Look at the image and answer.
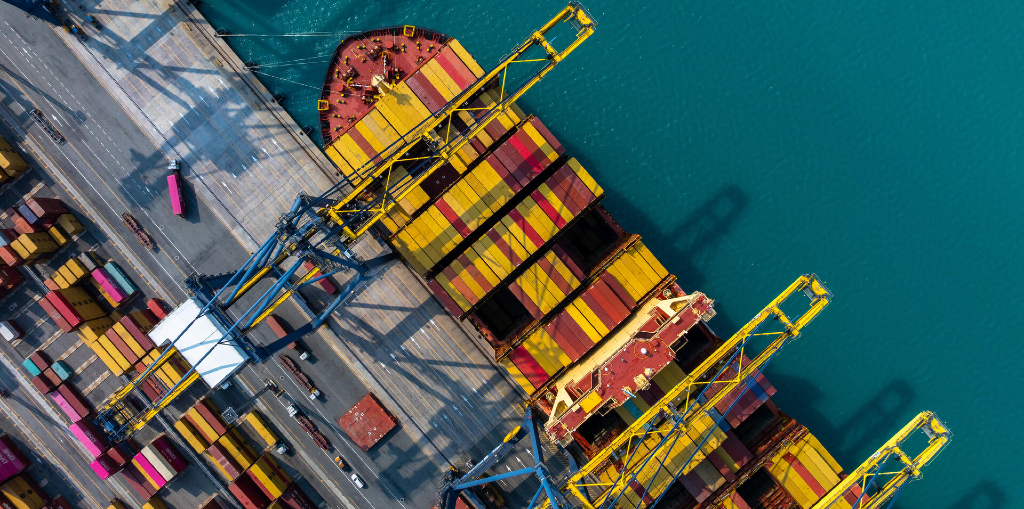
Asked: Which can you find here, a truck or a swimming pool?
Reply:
truck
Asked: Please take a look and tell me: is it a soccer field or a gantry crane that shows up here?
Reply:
gantry crane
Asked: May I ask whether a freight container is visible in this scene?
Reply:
Yes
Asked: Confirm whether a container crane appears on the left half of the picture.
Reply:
Yes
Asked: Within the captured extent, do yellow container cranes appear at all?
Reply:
Yes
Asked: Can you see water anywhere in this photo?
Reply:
Yes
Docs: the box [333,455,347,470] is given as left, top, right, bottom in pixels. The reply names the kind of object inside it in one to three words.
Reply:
vehicle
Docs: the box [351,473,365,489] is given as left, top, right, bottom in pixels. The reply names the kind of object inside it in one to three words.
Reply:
car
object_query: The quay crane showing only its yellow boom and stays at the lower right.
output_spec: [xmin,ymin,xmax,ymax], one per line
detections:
[800,406,952,509]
